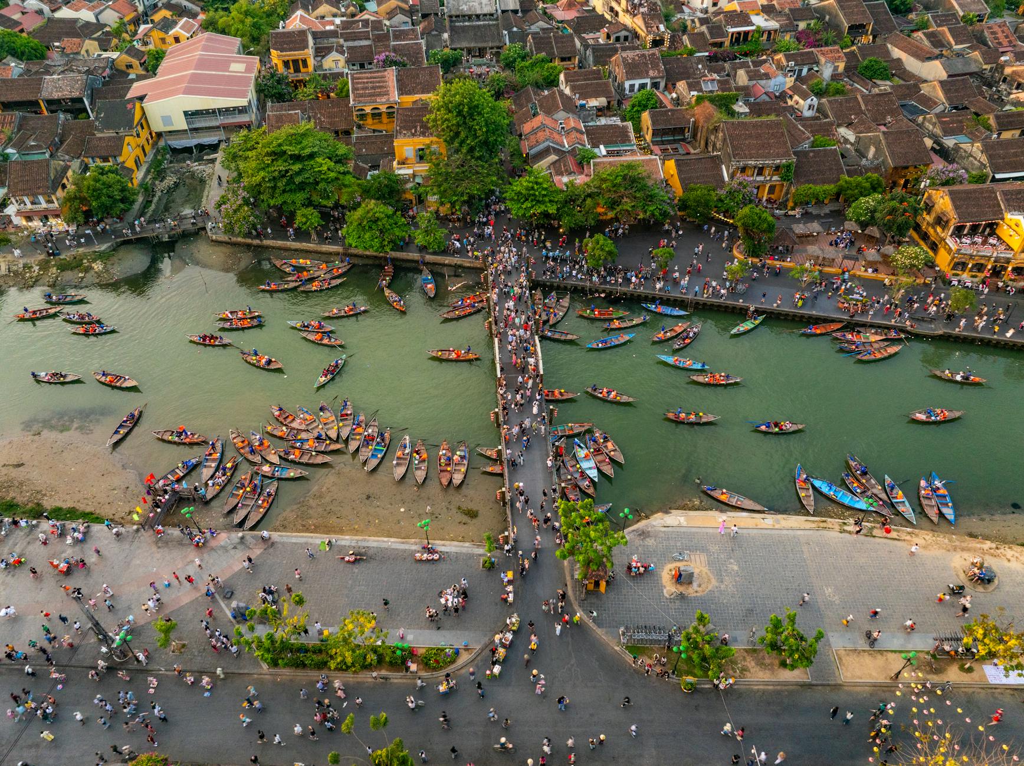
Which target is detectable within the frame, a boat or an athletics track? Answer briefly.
boat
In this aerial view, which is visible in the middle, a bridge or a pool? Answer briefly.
bridge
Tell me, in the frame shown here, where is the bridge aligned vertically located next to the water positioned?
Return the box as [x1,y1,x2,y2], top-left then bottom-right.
[487,256,565,554]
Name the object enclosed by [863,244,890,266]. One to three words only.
umbrella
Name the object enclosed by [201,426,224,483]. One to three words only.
boat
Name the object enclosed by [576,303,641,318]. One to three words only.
boat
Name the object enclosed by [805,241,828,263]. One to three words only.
umbrella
